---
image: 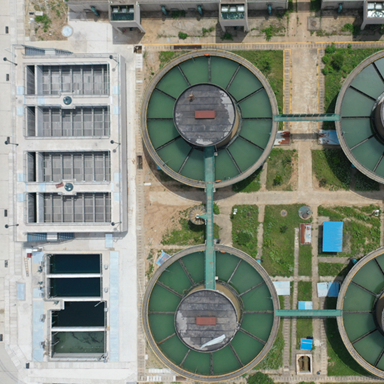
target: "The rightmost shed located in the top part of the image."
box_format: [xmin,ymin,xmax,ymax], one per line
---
[318,129,340,145]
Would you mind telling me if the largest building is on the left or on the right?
left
